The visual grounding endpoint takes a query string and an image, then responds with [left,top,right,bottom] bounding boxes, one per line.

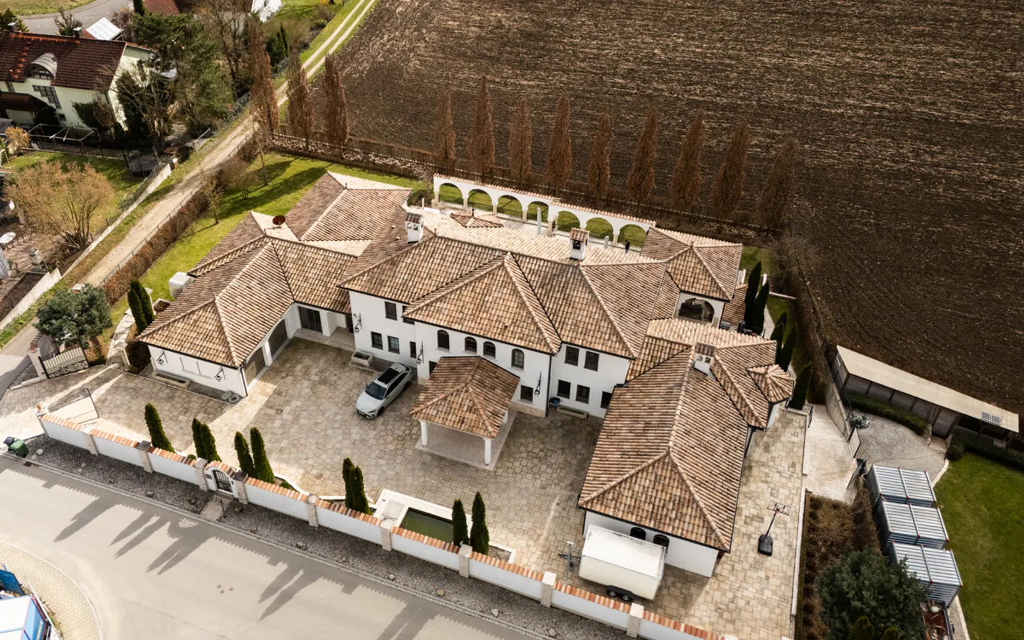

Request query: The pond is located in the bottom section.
[367,485,474,549]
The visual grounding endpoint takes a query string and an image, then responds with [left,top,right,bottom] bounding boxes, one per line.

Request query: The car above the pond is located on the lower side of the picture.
[354,360,415,421]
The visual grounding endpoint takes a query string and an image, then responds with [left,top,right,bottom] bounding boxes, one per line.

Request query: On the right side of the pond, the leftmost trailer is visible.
[550,525,667,599]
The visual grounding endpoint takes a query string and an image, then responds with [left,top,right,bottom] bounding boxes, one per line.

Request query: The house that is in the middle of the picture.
[132,169,796,577]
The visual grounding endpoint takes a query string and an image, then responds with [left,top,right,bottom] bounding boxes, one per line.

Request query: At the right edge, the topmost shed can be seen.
[833,347,1019,451]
